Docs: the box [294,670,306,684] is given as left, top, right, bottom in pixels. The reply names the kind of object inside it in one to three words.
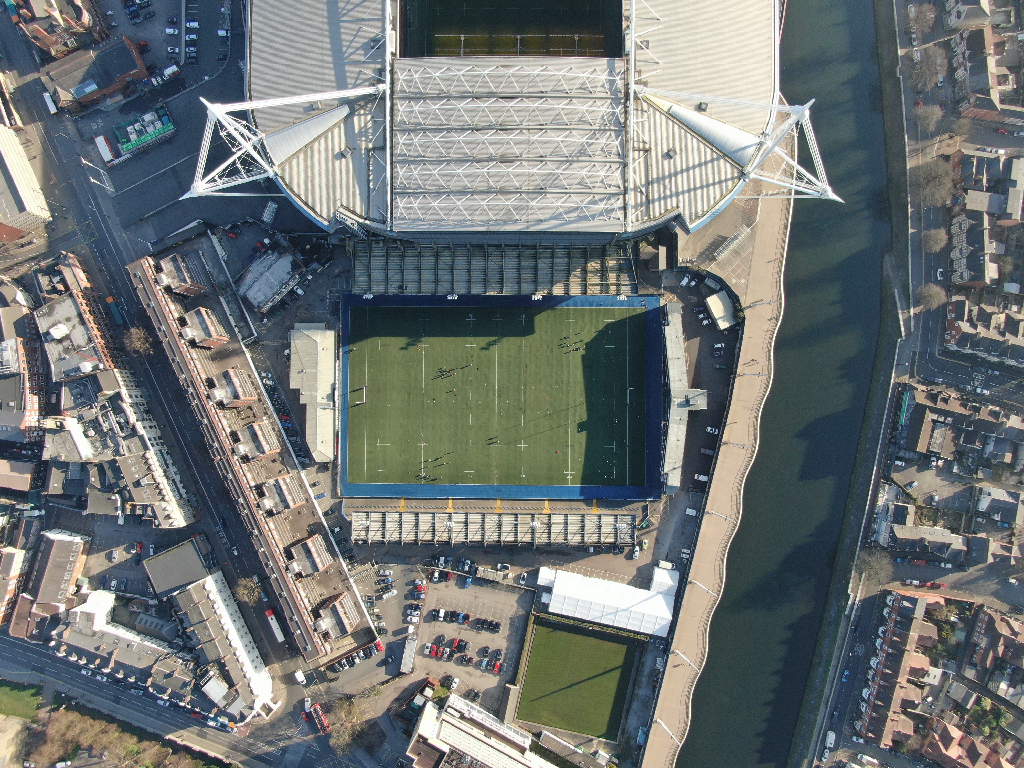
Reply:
vehicle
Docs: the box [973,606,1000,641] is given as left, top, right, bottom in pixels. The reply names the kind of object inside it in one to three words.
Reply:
house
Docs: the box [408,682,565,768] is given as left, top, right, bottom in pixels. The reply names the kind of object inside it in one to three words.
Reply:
building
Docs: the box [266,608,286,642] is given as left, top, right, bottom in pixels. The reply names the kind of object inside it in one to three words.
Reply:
bus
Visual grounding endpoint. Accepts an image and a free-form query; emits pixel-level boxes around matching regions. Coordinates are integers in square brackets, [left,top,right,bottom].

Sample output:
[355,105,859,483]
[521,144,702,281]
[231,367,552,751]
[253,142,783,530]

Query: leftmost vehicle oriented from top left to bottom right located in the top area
[43,92,62,118]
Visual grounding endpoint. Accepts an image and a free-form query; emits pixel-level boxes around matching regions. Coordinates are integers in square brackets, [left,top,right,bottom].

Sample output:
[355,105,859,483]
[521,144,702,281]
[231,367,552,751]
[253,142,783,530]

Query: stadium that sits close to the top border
[179,0,844,250]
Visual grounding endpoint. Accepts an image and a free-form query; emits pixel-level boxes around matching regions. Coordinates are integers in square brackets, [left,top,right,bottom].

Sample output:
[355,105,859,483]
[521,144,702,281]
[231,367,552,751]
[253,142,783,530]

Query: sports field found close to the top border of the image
[407,0,611,57]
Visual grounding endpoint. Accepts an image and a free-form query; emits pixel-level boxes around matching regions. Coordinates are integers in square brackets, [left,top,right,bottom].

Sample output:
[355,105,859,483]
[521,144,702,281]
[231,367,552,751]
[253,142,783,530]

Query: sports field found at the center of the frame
[340,273,662,500]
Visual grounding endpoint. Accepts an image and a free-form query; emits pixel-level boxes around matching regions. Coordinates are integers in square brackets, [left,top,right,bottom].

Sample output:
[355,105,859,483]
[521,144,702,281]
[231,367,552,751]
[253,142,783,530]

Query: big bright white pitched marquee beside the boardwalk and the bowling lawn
[549,567,675,637]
